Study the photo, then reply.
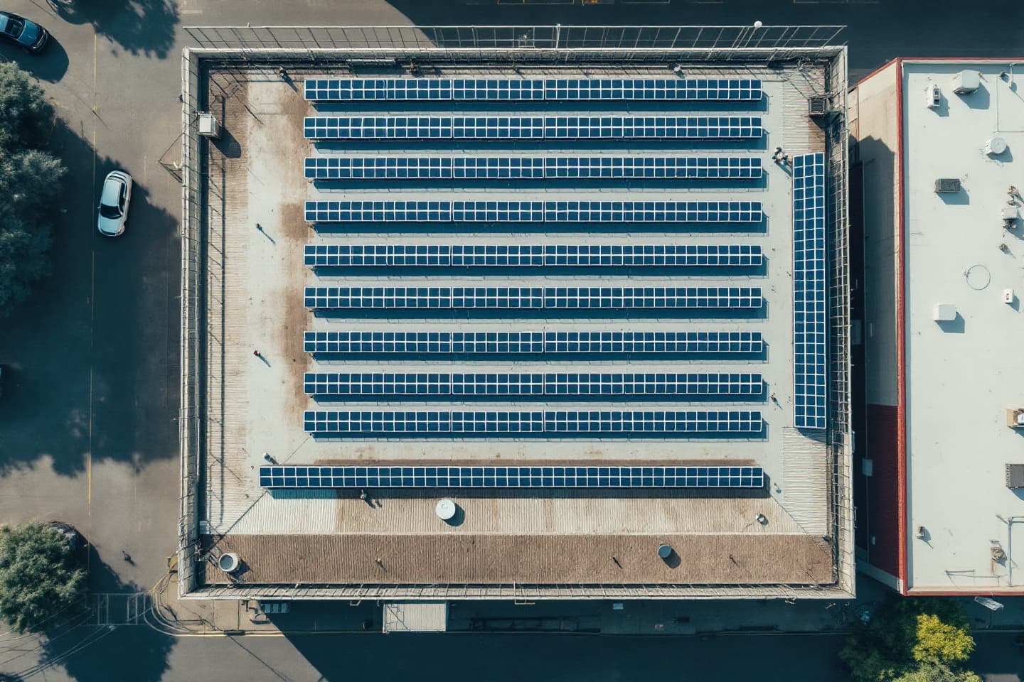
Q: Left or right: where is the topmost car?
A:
left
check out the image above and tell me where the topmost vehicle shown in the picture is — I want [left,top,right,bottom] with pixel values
[0,5,52,54]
